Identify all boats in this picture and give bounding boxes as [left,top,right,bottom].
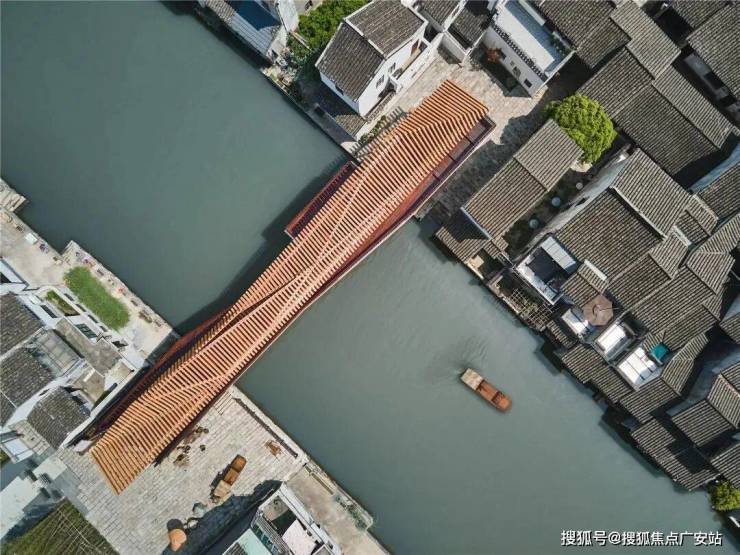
[457,366,515,410]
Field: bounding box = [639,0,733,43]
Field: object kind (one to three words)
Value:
house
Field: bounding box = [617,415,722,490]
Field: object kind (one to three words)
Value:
house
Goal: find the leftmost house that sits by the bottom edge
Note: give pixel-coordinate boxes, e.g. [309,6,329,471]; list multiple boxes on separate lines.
[0,464,60,542]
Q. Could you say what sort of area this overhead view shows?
residential area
